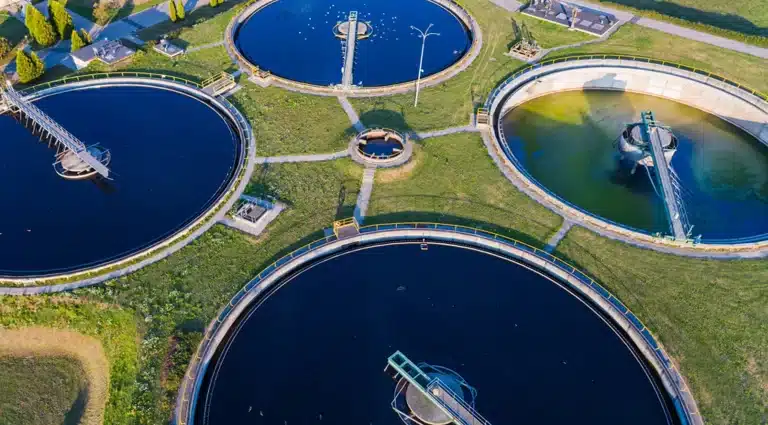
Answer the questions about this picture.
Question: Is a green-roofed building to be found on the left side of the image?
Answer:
No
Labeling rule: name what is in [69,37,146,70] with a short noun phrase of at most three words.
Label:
building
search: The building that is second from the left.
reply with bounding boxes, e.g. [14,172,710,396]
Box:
[152,36,186,60]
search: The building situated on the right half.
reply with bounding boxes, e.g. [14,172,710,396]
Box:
[519,0,617,39]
